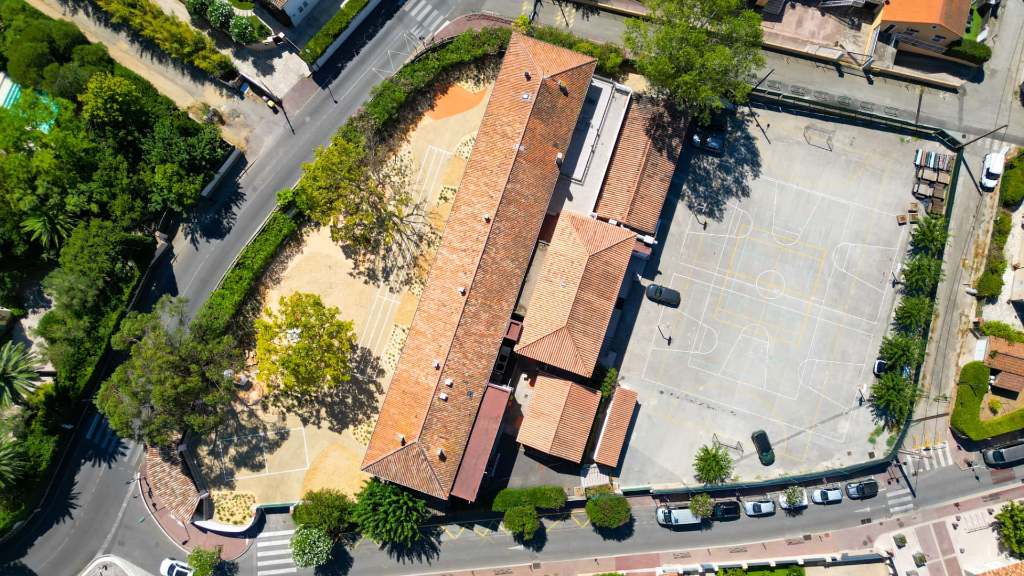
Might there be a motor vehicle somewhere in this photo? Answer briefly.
Yes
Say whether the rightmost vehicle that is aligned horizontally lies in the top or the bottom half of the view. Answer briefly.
bottom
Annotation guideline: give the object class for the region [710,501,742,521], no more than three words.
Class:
car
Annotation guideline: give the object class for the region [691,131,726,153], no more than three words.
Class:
car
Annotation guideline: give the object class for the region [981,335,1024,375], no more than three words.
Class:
house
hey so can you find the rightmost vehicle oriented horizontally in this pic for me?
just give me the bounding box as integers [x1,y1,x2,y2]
[980,439,1024,466]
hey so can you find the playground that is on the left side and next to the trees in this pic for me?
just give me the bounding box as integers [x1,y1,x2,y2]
[154,57,631,506]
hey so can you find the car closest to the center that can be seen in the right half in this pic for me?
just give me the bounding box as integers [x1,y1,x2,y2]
[645,283,682,306]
